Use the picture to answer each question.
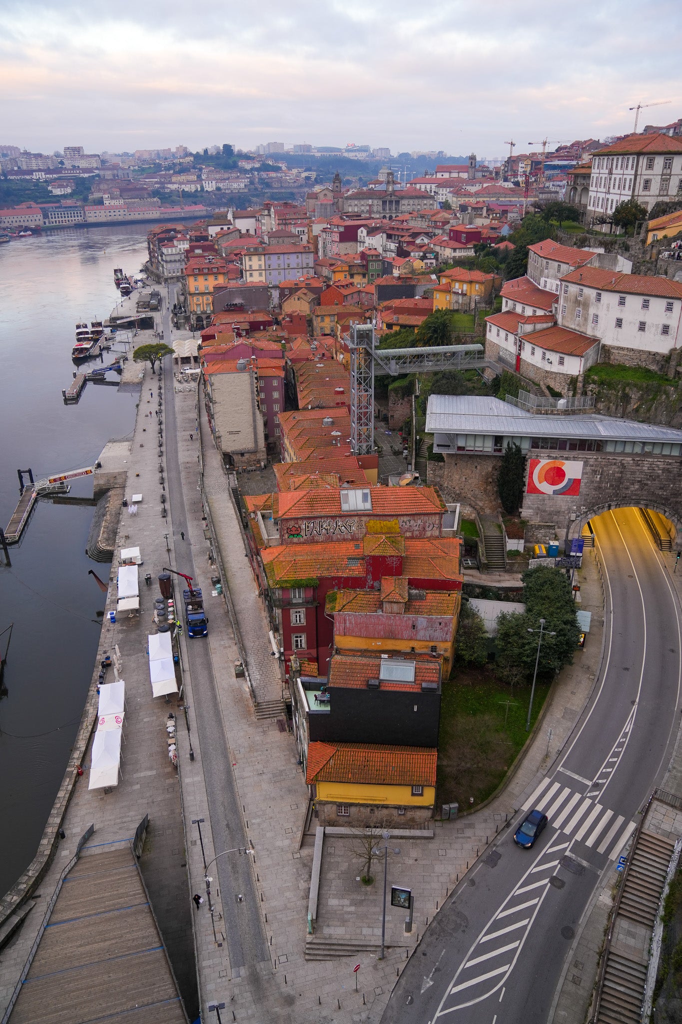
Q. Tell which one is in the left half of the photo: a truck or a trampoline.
truck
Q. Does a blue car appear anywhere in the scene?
Yes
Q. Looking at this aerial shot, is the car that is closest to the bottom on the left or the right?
right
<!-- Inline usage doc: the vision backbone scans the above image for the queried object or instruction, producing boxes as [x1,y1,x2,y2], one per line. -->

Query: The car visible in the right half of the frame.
[515,805,547,846]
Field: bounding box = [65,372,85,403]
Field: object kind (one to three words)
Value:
pier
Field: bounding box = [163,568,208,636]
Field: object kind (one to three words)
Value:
truck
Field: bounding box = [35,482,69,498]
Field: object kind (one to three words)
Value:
pier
